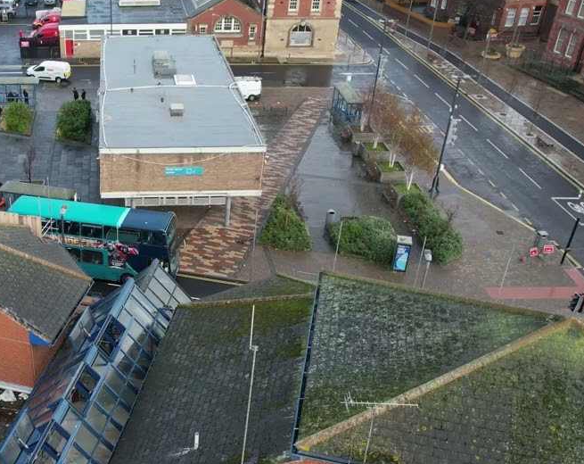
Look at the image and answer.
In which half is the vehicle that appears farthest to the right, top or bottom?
top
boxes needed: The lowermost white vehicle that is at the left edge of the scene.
[27,61,72,84]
